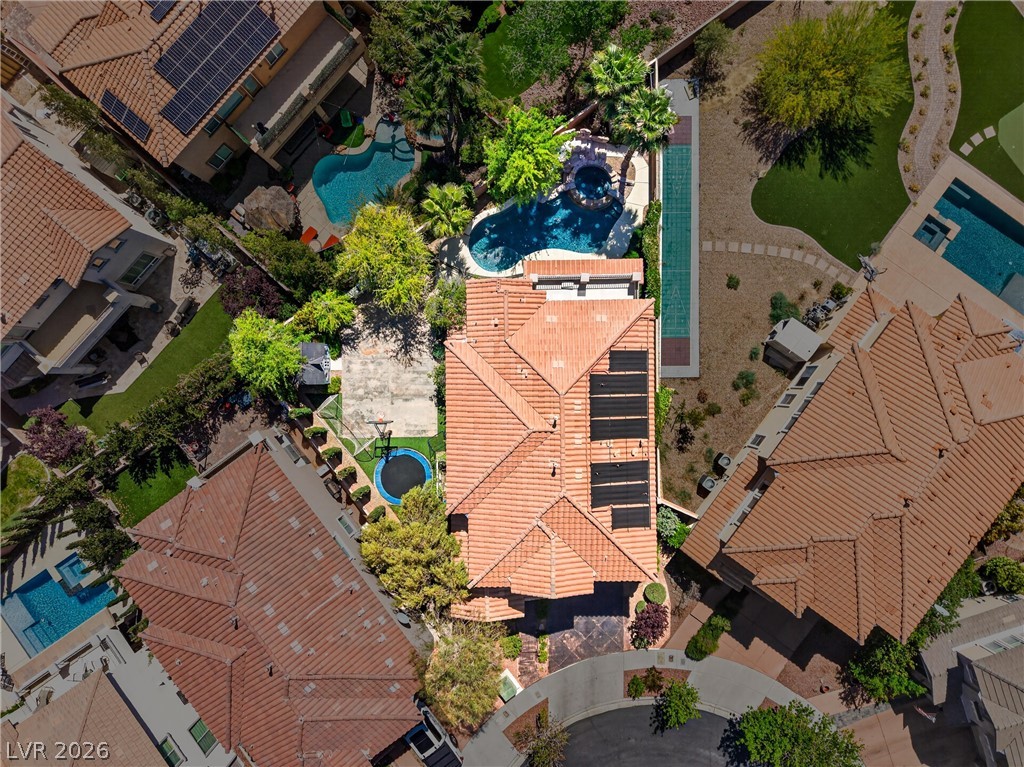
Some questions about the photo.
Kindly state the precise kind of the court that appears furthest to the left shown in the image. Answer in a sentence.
It turns out the court that appears furthest to the left is a basketball court.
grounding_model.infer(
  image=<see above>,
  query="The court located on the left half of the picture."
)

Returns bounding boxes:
[342,348,438,438]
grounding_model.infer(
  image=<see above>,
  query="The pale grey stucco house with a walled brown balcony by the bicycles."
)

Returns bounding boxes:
[0,93,176,411]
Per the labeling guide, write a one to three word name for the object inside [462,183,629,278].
swimming pool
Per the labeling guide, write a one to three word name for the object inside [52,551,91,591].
swimming pool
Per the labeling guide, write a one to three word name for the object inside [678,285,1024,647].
house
